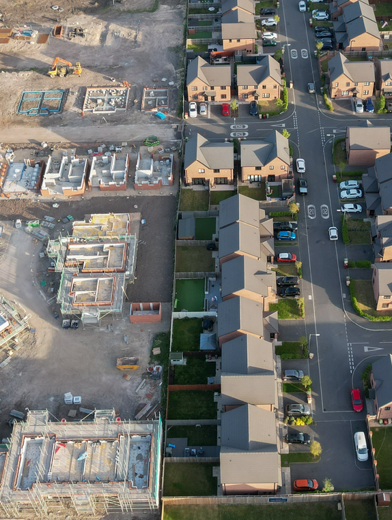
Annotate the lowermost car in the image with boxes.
[293,477,317,489]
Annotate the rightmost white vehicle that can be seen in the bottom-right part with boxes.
[353,428,370,460]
